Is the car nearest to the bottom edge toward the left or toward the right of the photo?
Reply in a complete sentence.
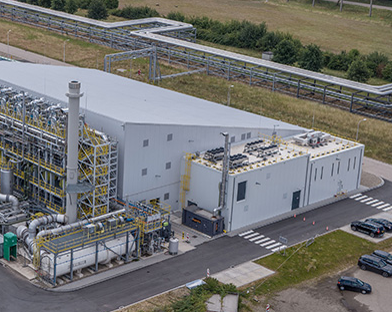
The car nearest to the bottom edge appears in the right half of the scene.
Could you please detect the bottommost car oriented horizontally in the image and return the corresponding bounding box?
[336,274,371,293]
